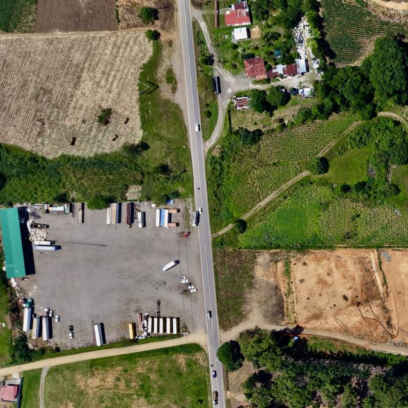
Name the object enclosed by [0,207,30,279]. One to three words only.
building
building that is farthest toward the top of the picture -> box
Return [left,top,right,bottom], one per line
[225,1,252,26]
